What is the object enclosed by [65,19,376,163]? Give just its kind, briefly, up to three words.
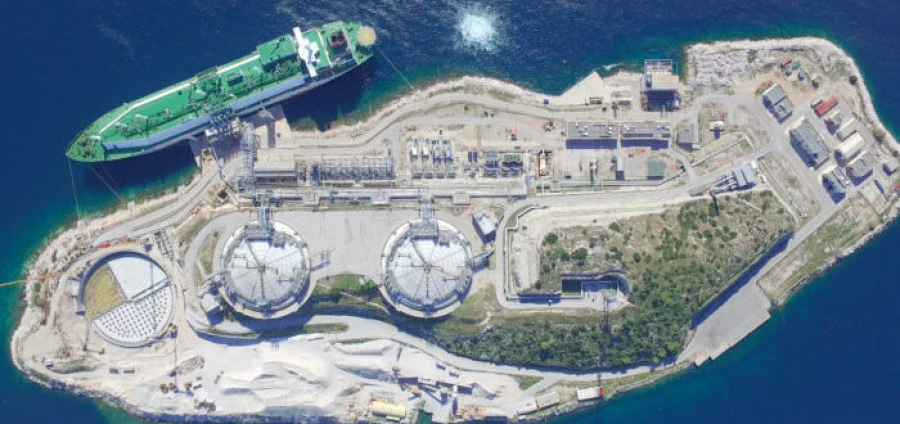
ship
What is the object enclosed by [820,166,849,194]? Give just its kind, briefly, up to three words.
building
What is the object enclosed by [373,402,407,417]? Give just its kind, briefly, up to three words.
shed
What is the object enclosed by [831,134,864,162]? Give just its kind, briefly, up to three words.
shed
